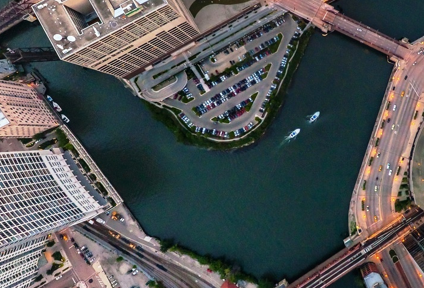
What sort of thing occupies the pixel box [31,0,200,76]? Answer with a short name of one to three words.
building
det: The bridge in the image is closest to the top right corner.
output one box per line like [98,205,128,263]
[315,0,415,66]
